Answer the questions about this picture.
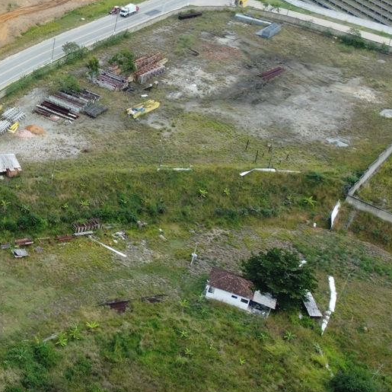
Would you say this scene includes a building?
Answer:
Yes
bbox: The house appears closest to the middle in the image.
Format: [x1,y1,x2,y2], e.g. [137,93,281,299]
[207,271,282,323]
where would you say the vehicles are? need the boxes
[116,2,140,19]
[107,5,121,15]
